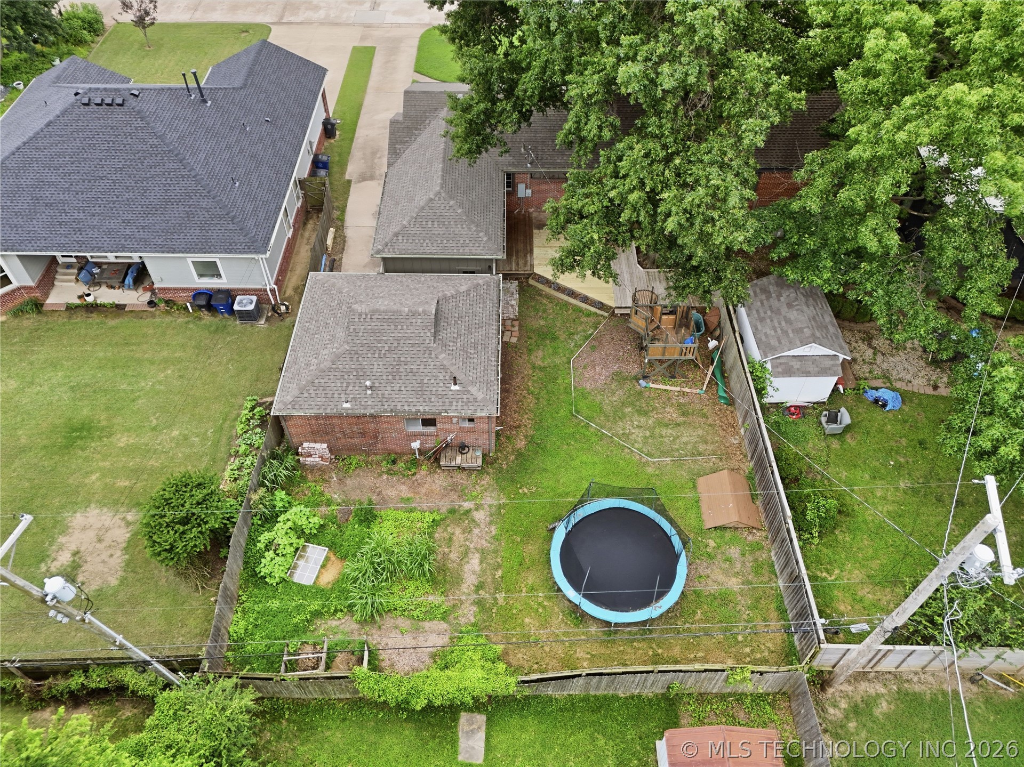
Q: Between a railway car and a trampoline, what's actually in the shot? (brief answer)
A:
trampoline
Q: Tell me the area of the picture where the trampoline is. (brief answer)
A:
bottom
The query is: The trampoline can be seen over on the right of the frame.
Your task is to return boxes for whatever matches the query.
[547,484,691,644]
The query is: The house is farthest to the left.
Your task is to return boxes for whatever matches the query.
[0,38,329,314]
